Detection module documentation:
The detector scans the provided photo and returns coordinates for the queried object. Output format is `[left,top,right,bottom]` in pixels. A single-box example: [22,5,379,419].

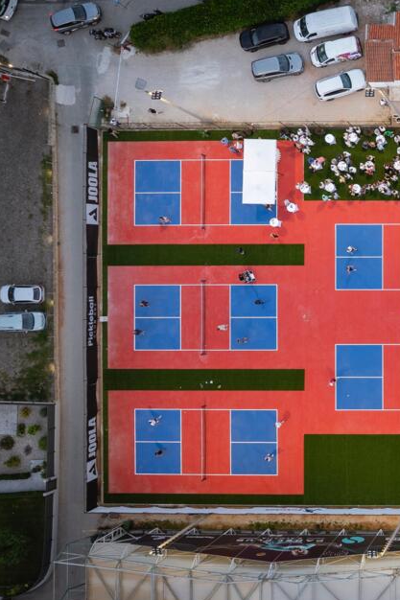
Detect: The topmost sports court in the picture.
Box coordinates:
[108,140,304,245]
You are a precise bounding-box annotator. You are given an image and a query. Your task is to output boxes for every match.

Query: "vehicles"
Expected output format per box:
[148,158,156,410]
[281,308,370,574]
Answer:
[251,53,305,83]
[1,282,48,305]
[310,35,364,67]
[0,309,48,334]
[142,10,160,19]
[293,3,360,41]
[240,21,293,52]
[0,0,21,18]
[313,69,369,101]
[48,3,104,35]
